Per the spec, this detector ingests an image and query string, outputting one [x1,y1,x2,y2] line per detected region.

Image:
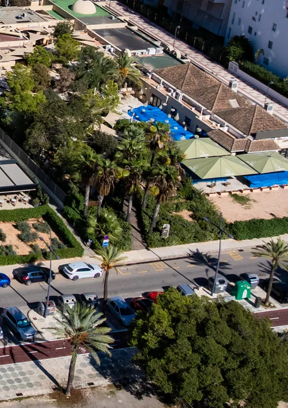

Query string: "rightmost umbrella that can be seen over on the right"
[236,151,288,175]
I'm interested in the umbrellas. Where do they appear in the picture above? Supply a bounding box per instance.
[185,156,258,186]
[175,138,230,162]
[236,151,288,175]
